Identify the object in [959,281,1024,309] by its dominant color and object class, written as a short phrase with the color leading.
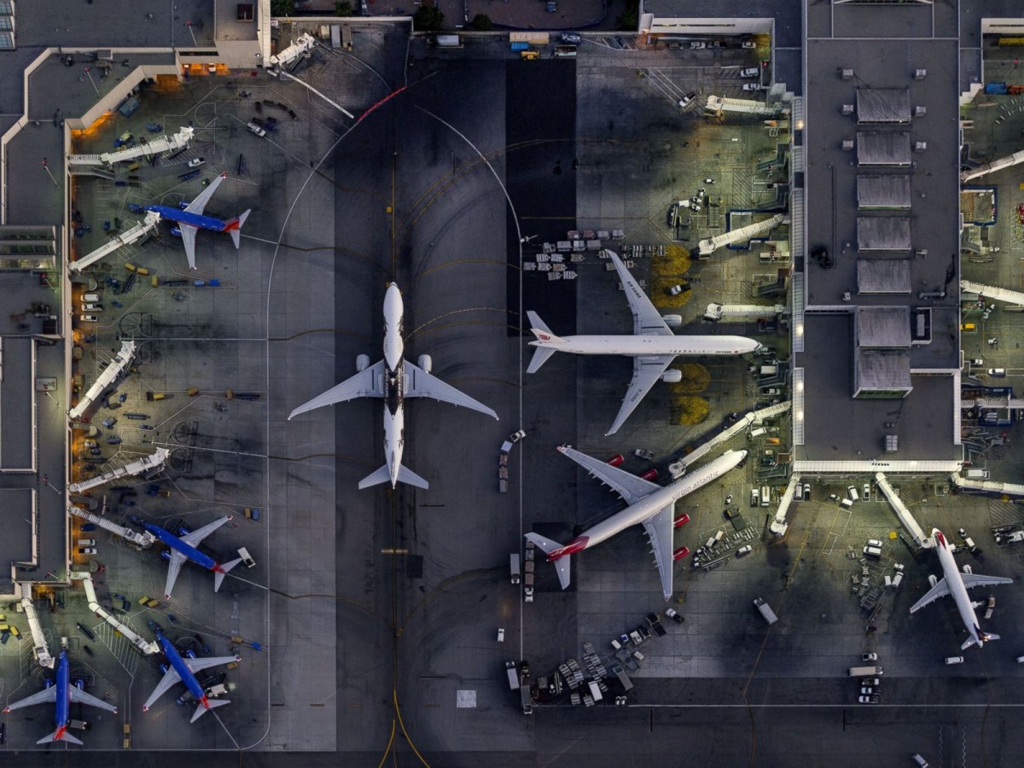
white jet bridge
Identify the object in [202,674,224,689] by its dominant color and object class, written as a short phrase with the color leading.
black work vehicle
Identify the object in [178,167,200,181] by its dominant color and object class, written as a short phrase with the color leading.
black work vehicle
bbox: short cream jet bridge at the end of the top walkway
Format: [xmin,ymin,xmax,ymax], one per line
[272,31,319,80]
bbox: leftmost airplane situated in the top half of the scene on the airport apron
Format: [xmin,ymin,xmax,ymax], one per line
[147,170,251,269]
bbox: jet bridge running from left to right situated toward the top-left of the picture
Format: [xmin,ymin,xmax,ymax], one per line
[69,126,201,173]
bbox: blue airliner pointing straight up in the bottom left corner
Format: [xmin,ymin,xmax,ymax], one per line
[0,651,116,745]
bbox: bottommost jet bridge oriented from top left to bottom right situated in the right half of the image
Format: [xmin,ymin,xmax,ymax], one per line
[870,473,936,550]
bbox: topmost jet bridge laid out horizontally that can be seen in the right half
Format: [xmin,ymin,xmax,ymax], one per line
[699,97,789,129]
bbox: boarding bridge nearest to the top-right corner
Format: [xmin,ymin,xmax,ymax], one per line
[959,150,1024,188]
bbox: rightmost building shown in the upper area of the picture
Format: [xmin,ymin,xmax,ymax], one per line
[636,0,1024,473]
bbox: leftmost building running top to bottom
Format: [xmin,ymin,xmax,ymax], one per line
[0,0,273,598]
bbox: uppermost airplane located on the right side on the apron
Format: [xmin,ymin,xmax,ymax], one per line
[527,250,760,436]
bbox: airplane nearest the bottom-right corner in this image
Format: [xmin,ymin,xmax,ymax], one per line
[911,528,1014,649]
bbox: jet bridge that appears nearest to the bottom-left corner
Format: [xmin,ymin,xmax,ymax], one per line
[21,583,59,670]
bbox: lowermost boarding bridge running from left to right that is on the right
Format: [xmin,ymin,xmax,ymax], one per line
[943,473,1024,497]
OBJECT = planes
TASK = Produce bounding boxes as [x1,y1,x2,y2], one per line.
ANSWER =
[0,651,116,745]
[145,514,241,599]
[143,633,242,723]
[288,284,498,490]
[911,528,1014,649]
[525,446,746,603]
[147,170,251,269]
[527,250,760,436]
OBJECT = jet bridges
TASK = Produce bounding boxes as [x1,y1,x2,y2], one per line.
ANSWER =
[770,473,804,541]
[959,150,1024,188]
[69,204,168,279]
[69,126,201,173]
[21,583,59,670]
[664,399,789,483]
[272,31,319,80]
[69,443,177,496]
[699,304,789,329]
[699,97,789,129]
[69,335,139,423]
[962,398,1024,412]
[959,281,1024,309]
[870,473,936,550]
[69,571,167,655]
[69,503,162,549]
[943,473,1024,497]
[693,212,789,262]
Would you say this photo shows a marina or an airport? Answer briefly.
airport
